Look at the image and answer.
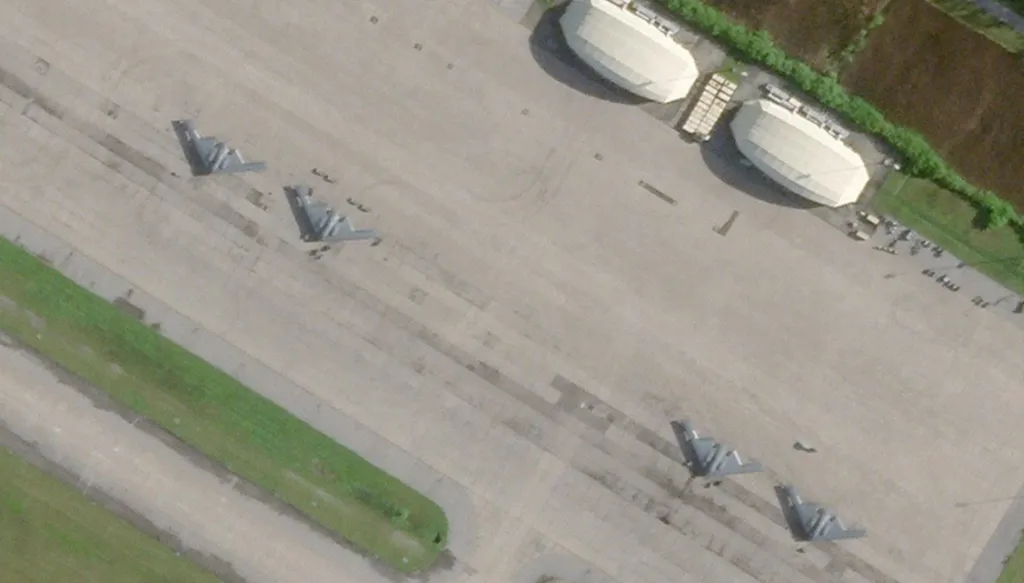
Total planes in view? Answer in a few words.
4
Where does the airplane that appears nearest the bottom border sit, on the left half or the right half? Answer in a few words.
right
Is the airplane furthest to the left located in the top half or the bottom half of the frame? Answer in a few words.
top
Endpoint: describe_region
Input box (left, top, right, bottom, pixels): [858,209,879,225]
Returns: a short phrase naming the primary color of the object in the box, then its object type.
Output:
white vehicle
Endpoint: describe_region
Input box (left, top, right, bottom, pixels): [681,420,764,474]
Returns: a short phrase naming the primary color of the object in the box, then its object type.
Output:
gray airplane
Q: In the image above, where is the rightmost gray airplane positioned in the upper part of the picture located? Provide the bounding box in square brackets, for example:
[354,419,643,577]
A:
[293,185,377,239]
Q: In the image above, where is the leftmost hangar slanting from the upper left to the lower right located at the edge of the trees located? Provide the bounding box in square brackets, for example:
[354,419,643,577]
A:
[559,0,698,104]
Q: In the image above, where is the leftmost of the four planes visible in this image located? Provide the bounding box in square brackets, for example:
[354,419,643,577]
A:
[180,119,267,173]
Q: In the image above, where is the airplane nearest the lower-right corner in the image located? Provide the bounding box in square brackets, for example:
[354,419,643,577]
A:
[783,485,867,539]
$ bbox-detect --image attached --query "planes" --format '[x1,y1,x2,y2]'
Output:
[293,185,377,239]
[783,485,867,539]
[180,119,267,173]
[681,420,764,474]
